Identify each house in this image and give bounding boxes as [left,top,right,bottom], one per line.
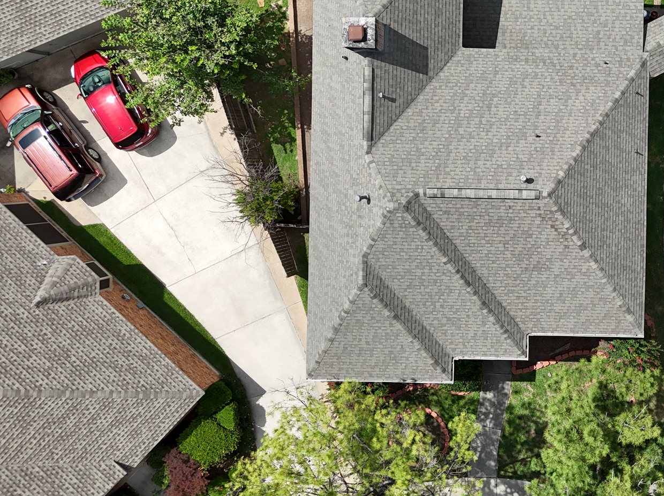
[0,0,163,71]
[304,0,652,384]
[0,191,216,496]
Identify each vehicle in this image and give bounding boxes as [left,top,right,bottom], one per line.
[0,79,100,201]
[71,47,159,159]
